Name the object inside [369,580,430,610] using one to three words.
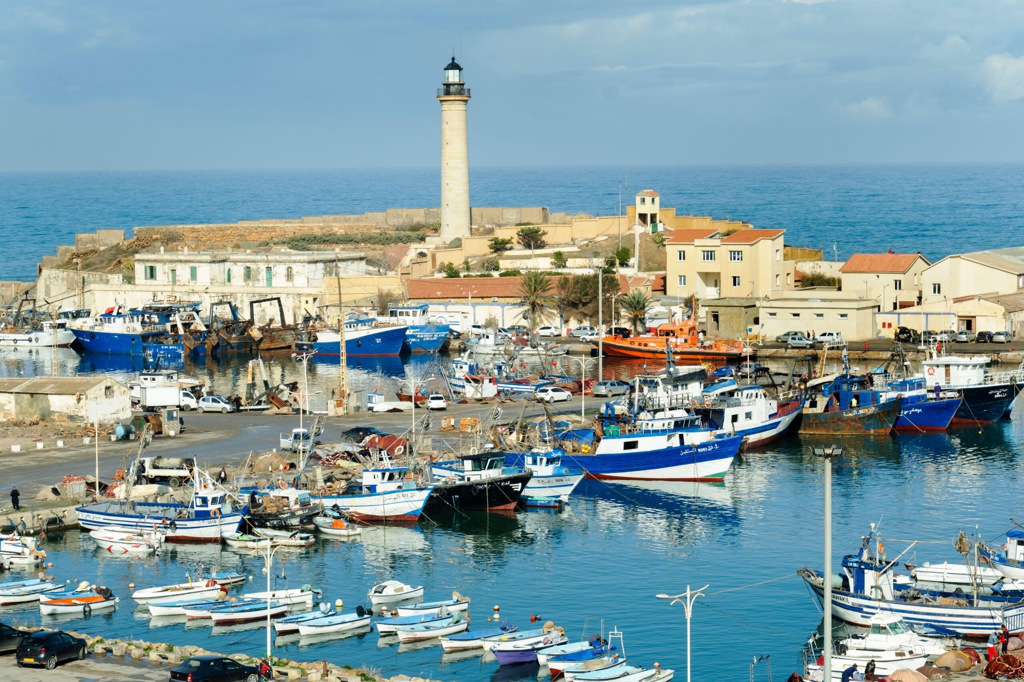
boat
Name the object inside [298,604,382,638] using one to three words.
boat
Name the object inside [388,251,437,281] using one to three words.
shed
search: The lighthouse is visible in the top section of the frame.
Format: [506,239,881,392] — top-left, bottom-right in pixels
[437,57,472,235]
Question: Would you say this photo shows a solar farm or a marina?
marina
